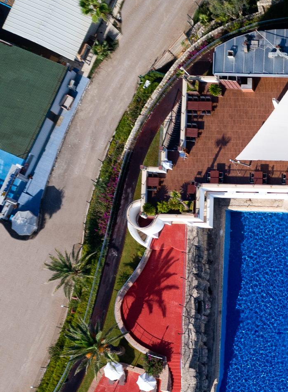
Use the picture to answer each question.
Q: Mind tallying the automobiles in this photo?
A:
0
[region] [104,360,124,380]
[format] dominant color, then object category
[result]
white umbrella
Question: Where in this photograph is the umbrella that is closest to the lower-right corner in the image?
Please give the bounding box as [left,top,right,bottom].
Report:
[137,373,157,392]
